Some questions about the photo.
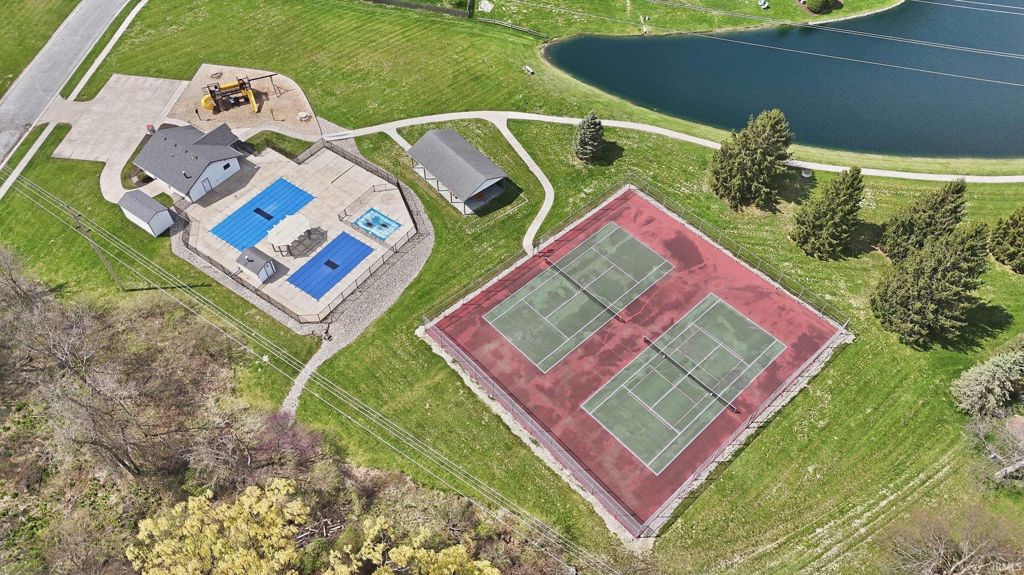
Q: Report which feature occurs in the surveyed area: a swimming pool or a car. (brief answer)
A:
swimming pool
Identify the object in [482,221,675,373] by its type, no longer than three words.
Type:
tennis court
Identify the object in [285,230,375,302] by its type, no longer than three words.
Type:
swimming pool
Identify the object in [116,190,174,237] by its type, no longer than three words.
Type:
shed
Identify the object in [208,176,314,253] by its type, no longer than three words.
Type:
swimming pool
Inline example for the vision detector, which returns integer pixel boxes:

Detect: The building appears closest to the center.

[403,129,509,216]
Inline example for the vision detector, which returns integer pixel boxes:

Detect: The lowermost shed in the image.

[233,245,276,283]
